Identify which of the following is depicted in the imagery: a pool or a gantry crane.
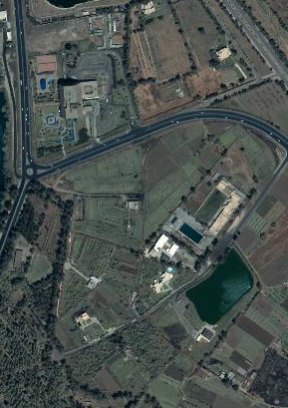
pool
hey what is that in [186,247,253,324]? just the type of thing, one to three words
pond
